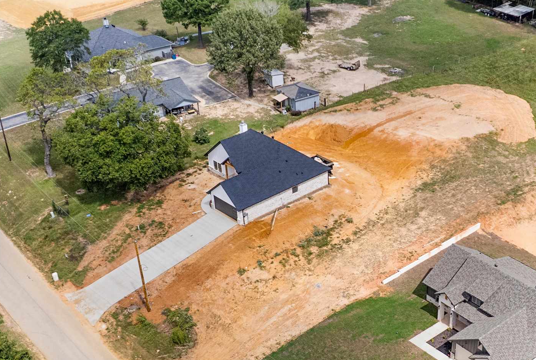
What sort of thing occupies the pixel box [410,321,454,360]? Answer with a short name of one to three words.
house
